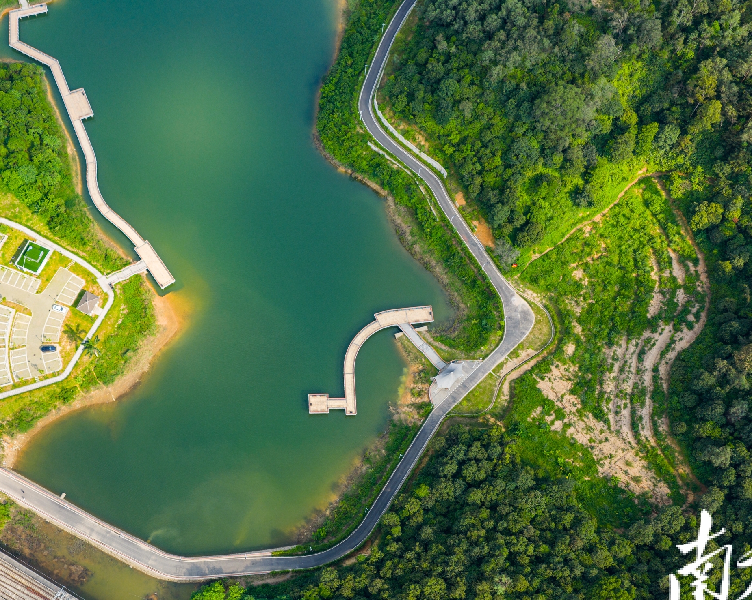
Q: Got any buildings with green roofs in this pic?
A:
Yes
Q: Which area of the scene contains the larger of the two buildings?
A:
left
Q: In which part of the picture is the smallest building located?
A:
left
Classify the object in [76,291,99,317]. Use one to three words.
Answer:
building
